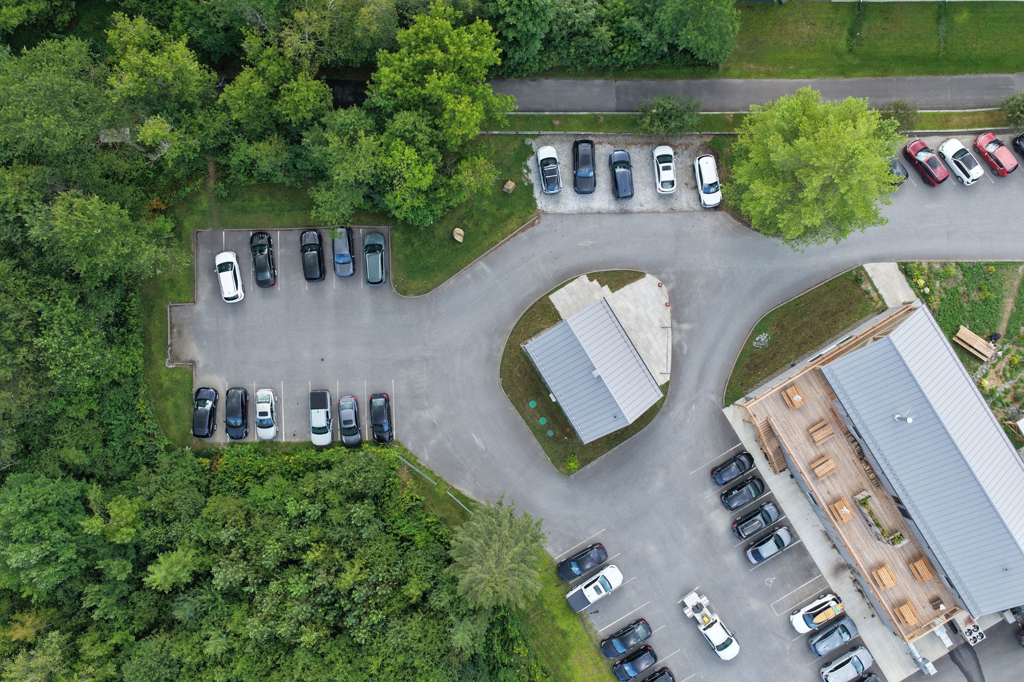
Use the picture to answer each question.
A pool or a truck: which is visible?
truck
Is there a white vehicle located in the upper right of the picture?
Yes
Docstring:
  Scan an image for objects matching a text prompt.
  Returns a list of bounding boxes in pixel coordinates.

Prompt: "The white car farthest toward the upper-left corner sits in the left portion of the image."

[214,251,246,304]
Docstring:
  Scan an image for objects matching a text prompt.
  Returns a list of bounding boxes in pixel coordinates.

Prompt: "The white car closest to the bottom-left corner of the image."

[252,388,278,439]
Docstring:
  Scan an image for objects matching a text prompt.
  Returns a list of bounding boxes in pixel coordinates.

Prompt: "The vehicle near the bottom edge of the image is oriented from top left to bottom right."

[681,589,742,662]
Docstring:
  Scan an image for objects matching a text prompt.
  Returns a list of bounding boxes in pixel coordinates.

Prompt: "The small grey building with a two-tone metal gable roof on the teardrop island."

[523,296,665,446]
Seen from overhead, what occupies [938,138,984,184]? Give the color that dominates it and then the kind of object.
white car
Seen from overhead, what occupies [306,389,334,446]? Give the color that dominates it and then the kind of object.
white vehicle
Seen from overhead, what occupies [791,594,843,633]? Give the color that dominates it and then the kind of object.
white car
